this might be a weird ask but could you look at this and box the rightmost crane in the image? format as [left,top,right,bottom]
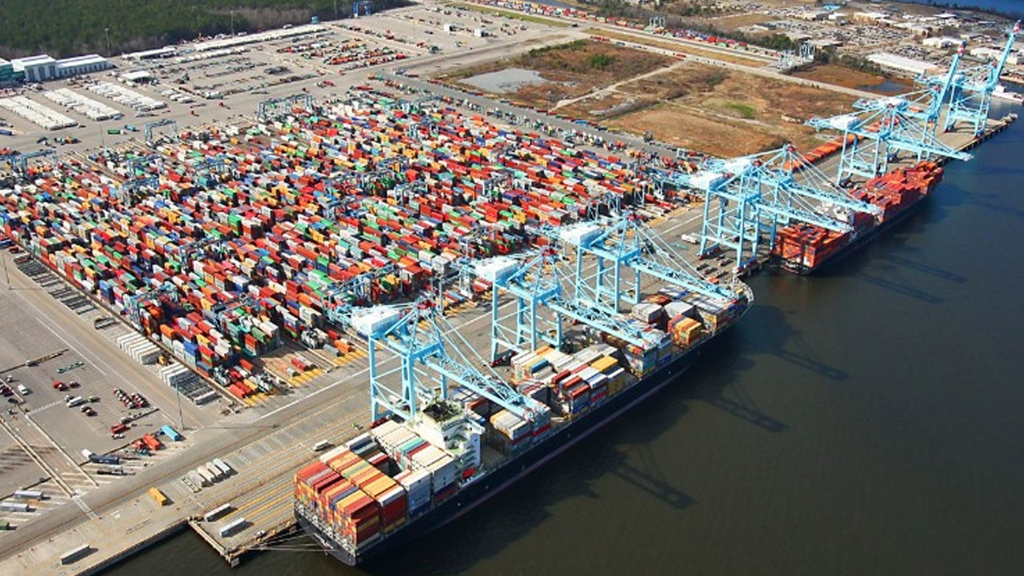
[920,16,1022,138]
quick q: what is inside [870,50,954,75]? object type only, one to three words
building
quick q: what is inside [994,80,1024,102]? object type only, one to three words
ship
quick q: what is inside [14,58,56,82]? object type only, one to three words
building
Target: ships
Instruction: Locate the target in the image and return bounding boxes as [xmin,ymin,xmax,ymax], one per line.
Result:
[994,80,1024,102]
[297,271,764,564]
[774,164,946,271]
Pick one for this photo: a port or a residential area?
port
